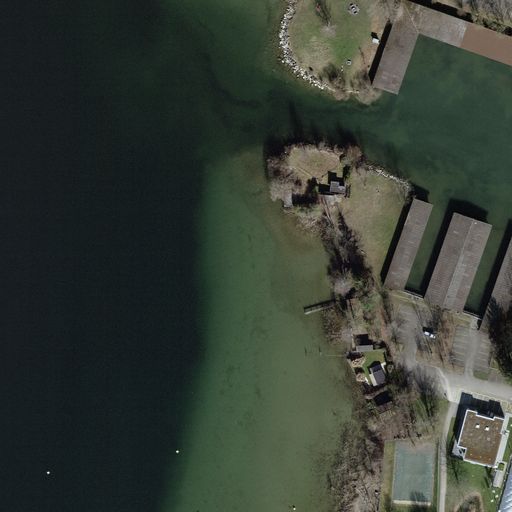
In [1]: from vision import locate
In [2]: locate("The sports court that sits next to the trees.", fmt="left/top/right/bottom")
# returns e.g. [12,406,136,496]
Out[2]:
[393,440,436,504]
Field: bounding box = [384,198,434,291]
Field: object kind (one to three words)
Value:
building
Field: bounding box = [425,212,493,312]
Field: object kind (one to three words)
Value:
building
